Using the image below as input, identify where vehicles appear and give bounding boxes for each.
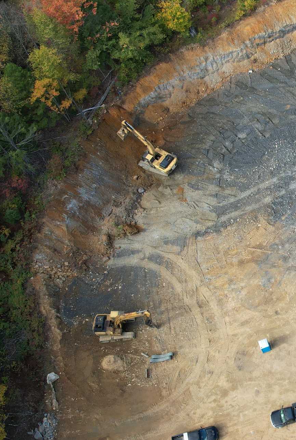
[84,313,154,343]
[269,402,296,428]
[124,122,182,176]
[170,426,219,440]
